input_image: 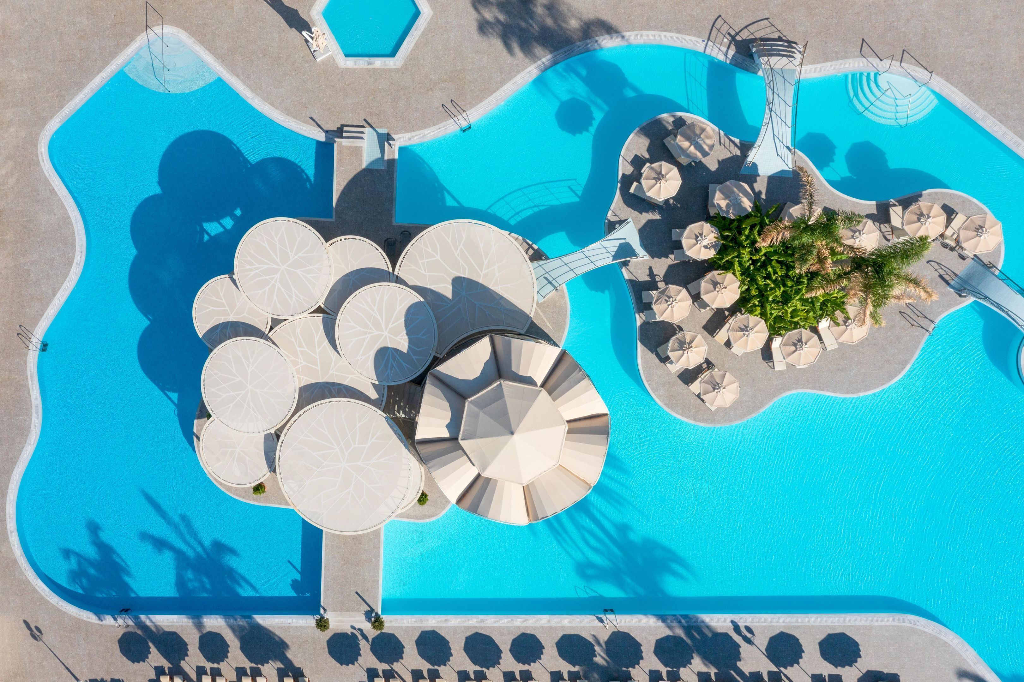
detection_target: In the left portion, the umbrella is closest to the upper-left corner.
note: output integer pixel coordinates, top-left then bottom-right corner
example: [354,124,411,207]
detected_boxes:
[305,21,332,60]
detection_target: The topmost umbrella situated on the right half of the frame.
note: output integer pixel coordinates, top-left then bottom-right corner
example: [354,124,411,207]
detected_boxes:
[673,121,718,163]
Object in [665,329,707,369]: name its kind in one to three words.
umbrella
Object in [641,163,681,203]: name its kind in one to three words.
umbrella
